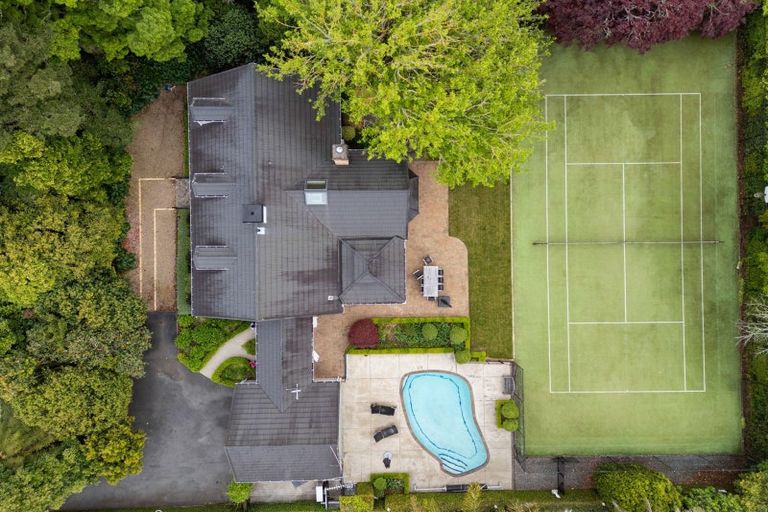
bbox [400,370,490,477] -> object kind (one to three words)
swimming pool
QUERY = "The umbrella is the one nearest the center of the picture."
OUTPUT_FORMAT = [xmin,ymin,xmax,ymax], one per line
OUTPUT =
[437,295,452,308]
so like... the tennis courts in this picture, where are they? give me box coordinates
[512,12,742,457]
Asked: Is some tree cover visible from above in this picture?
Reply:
Yes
